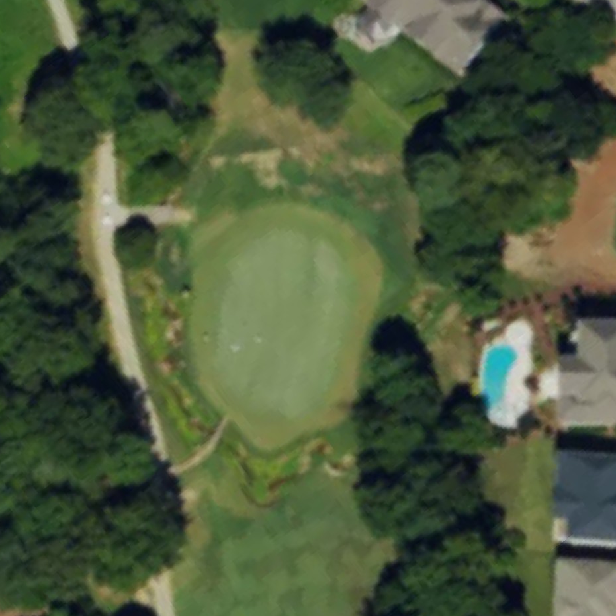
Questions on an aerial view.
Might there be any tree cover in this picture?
Yes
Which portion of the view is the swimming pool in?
right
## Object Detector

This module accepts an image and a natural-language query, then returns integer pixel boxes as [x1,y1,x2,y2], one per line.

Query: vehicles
[102,212,112,227]
[101,189,111,206]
